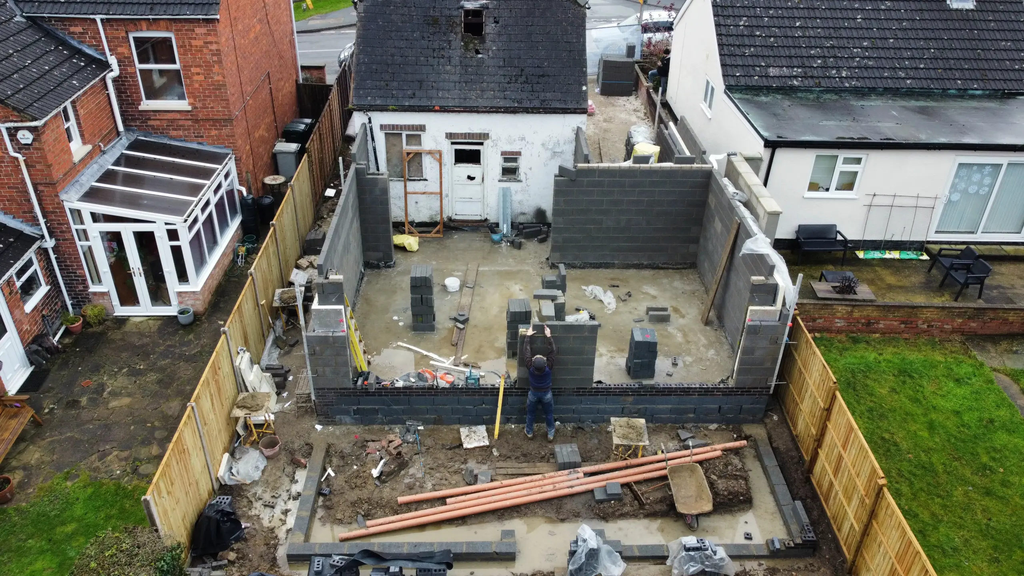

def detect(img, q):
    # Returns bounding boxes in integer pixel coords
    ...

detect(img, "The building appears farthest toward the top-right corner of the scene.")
[669,0,1024,244]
